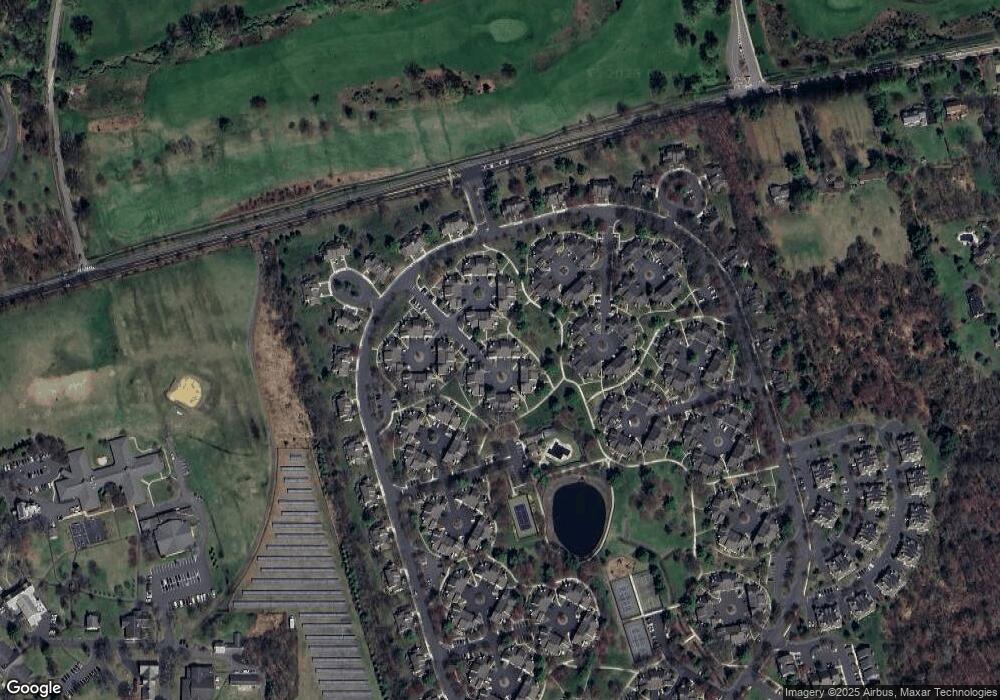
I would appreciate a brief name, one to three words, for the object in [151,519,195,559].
building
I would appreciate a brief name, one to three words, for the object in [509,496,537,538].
tennis court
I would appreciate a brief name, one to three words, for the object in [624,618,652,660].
tennis court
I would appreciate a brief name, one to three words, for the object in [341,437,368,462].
house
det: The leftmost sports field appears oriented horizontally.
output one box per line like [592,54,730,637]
[24,368,98,408]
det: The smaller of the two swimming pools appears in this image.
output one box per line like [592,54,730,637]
[958,232,979,246]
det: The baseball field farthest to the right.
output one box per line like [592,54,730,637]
[154,352,238,424]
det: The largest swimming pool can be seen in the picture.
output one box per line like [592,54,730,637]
[544,437,574,463]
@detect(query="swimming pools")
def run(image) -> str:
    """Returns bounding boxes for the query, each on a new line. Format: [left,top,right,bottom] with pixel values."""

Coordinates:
[544,437,574,463]
[958,232,979,246]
